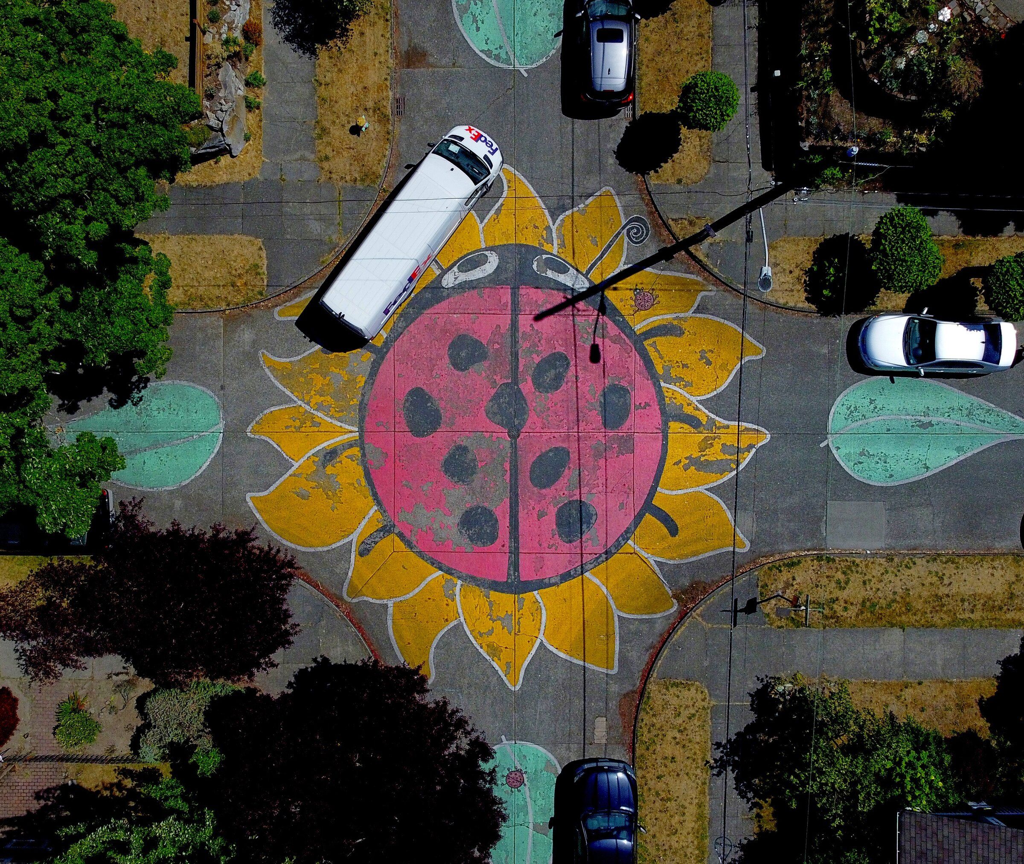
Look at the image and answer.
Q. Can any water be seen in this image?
No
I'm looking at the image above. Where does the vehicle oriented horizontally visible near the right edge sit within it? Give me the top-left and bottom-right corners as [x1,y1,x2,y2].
[859,304,1014,381]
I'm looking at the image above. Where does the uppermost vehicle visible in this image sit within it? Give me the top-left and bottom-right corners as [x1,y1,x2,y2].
[567,0,647,107]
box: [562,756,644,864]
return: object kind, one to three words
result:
car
